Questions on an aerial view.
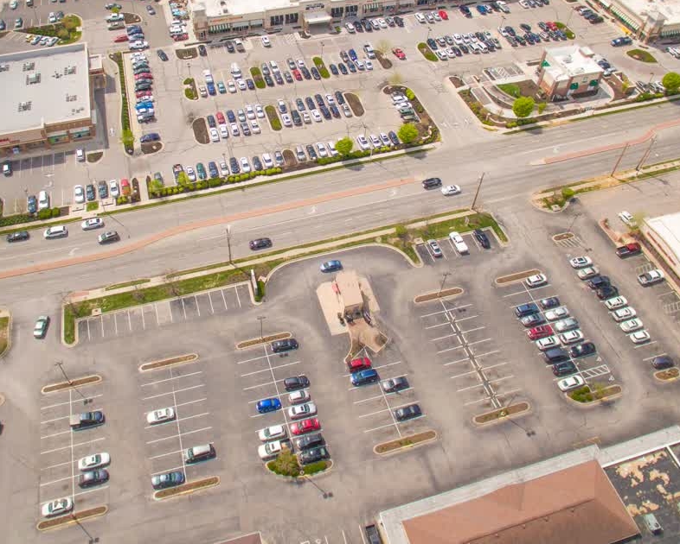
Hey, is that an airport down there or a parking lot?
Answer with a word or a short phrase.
parking lot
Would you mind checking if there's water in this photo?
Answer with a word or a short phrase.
No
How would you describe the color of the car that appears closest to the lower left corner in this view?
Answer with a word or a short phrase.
white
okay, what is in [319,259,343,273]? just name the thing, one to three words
vehicle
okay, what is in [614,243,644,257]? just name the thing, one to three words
vehicle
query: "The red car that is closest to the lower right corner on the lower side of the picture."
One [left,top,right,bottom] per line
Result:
[529,325,553,338]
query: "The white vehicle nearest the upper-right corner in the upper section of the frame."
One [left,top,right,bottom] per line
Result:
[666,47,680,59]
